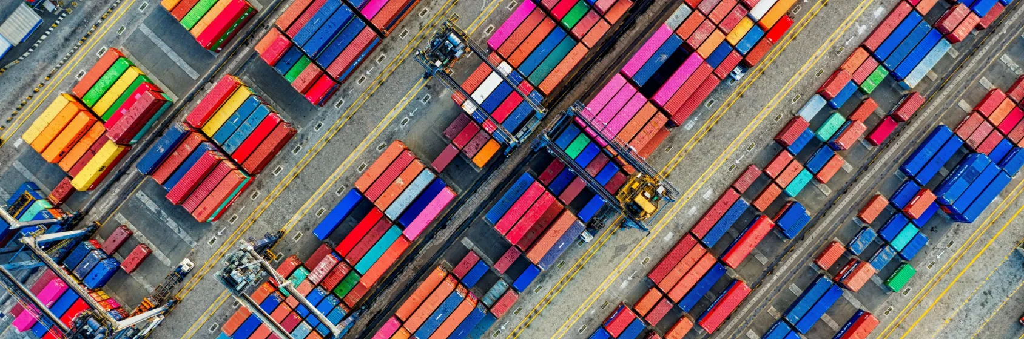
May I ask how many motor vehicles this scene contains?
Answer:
3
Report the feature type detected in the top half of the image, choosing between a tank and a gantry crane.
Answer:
gantry crane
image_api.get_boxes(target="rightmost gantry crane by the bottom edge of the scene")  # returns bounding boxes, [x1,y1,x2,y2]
[207,226,369,339]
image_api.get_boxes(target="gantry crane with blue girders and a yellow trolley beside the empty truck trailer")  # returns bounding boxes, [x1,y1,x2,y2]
[529,96,680,241]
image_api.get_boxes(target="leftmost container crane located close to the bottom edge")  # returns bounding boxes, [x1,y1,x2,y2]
[0,222,180,339]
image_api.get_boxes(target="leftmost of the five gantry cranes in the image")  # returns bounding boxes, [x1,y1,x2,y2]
[0,199,88,253]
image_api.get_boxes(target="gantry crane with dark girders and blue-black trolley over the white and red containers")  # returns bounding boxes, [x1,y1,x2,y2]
[408,1,552,153]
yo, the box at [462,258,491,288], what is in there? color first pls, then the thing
blue shipping container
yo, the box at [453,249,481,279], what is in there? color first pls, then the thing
red shipping container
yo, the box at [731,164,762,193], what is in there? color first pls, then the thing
red shipping container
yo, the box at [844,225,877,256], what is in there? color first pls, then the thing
blue shipping container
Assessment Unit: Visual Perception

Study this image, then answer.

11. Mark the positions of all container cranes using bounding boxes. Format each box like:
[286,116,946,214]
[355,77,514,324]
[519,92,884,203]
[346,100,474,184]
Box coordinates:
[0,199,88,253]
[0,222,180,339]
[207,226,369,339]
[529,96,680,241]
[408,1,552,153]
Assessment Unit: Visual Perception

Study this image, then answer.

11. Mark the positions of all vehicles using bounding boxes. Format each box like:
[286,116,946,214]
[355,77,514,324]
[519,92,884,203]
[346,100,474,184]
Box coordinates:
[148,256,196,306]
[576,206,616,248]
[726,50,754,85]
